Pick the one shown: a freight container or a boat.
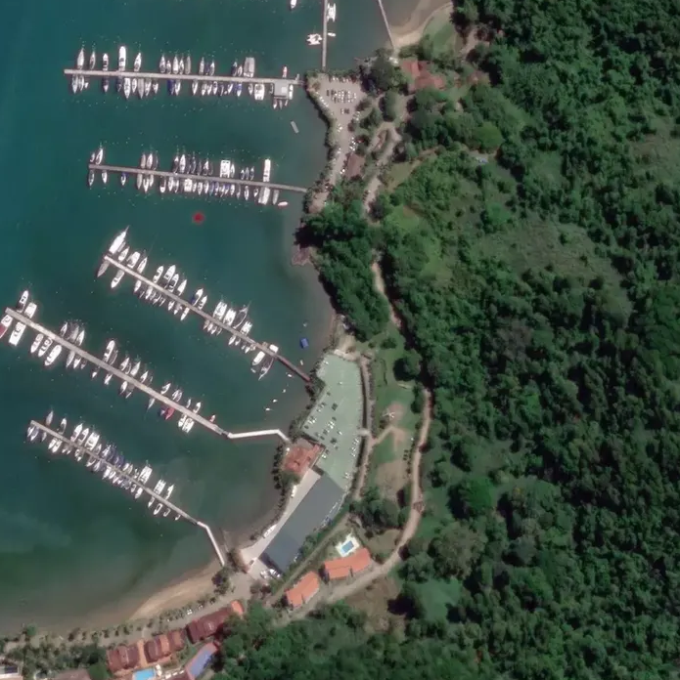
boat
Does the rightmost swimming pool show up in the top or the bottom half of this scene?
bottom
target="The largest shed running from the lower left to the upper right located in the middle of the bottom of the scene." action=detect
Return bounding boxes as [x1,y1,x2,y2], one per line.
[263,475,345,572]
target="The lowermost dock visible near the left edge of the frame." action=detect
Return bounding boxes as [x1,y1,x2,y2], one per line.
[32,421,198,524]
